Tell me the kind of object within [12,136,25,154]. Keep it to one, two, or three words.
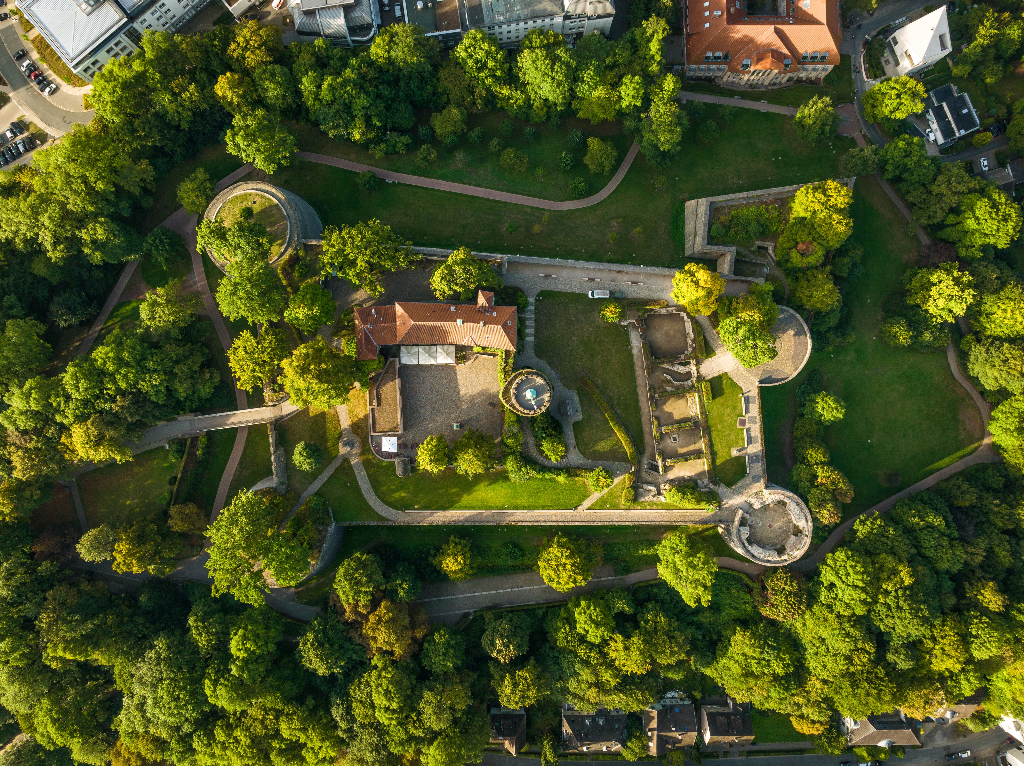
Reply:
vehicle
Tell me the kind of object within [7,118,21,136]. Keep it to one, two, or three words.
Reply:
car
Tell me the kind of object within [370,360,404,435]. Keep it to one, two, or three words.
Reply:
building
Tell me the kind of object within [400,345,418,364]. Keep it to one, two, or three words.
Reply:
umbrella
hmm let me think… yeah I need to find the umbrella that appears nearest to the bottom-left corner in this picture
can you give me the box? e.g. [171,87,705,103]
[382,437,397,452]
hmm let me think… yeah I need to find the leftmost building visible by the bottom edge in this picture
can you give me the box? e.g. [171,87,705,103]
[490,705,526,755]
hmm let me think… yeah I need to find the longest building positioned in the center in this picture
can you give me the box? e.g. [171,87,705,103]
[354,291,517,361]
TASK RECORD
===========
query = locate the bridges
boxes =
[175,402,283,439]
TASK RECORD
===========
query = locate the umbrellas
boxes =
[437,345,455,364]
[419,345,437,364]
[400,345,418,364]
[382,437,397,452]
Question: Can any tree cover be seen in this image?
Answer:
Yes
